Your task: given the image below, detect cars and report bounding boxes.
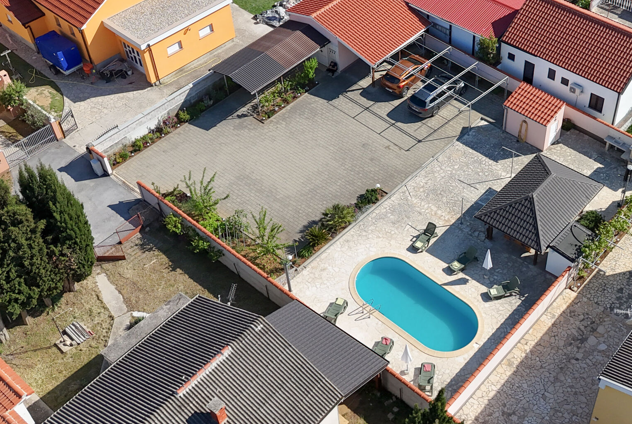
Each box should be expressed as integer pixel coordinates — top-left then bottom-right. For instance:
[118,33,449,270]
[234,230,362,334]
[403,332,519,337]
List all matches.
[404,71,470,119]
[379,54,439,97]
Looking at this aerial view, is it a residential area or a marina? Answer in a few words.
residential area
